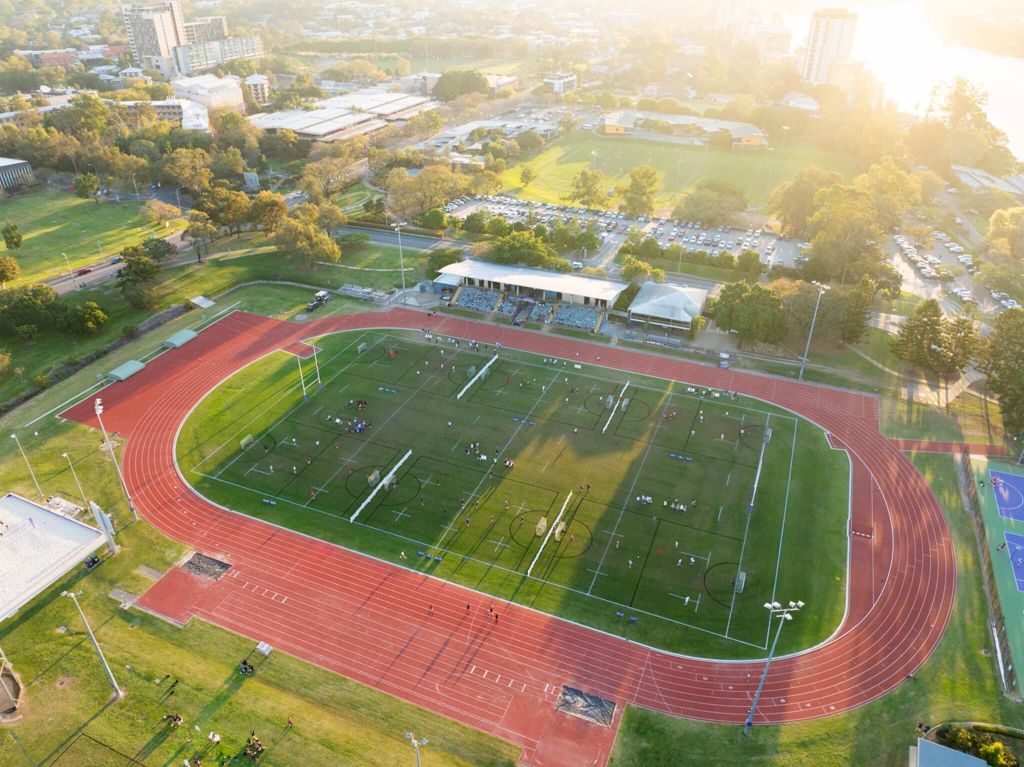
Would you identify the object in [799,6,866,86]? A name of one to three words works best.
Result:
building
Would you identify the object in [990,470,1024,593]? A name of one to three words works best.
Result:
sports court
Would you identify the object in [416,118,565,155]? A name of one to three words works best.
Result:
building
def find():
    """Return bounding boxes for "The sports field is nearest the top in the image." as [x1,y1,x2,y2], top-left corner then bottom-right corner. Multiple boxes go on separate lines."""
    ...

[500,131,850,215]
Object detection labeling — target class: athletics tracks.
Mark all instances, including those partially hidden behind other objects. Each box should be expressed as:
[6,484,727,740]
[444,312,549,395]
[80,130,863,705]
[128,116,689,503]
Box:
[122,312,958,724]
